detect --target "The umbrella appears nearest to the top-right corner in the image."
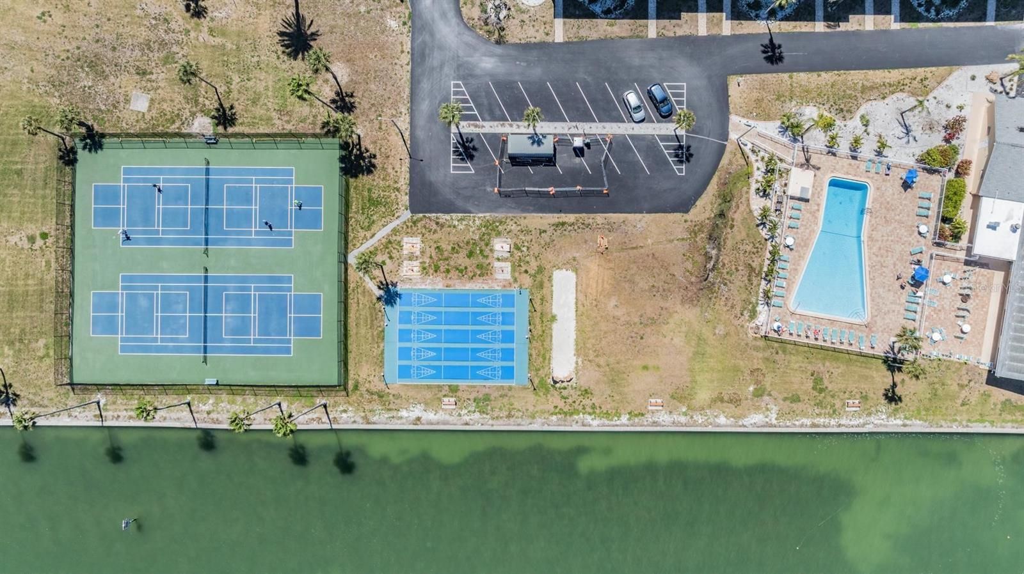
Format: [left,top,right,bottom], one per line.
[901,170,920,185]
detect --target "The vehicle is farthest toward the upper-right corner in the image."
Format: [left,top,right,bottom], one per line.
[649,81,672,117]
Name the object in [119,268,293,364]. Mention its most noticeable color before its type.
blue tennis court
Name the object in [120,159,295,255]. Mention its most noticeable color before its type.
blue tennis court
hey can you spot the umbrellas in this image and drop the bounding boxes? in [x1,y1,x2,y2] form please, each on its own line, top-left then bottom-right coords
[901,170,920,185]
[914,265,931,283]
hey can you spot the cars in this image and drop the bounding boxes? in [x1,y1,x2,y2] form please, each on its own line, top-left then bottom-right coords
[623,87,646,122]
[649,81,672,117]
